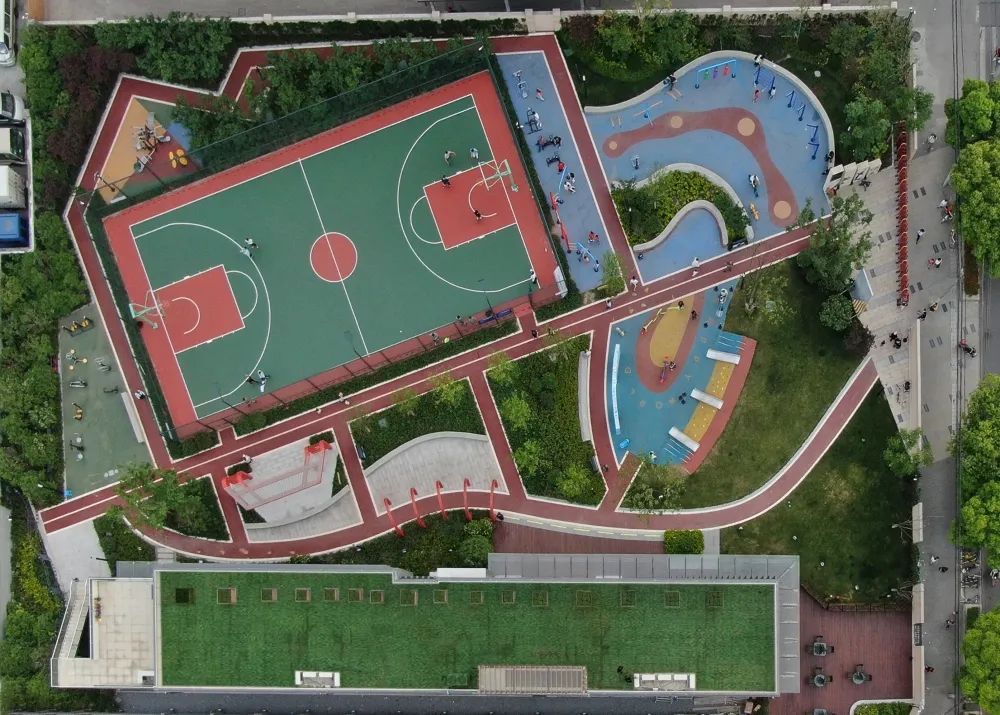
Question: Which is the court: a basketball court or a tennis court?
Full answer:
I'd identify the court as a basketball court.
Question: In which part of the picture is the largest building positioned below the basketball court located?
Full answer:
The largest building positioned below the basketball court sits in the bottom section of the image.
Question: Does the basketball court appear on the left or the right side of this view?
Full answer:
The basketball court appears in the left half of the scene.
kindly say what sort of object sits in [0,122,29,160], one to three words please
truck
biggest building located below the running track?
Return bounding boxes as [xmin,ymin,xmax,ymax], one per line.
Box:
[53,554,801,701]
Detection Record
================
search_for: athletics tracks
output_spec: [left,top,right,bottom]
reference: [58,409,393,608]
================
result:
[36,32,880,563]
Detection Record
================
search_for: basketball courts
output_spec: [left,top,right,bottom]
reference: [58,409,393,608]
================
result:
[104,71,565,442]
